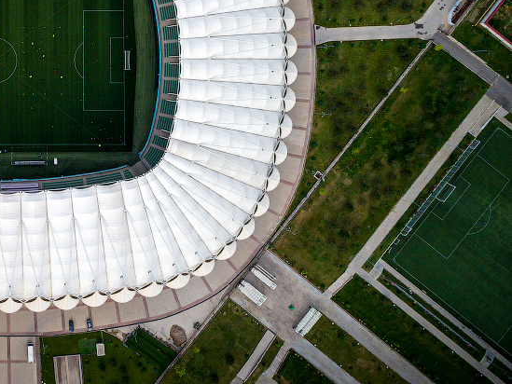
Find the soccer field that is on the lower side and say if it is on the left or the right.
right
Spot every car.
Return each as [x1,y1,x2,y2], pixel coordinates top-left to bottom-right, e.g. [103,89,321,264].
[87,321,92,333]
[69,323,74,334]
